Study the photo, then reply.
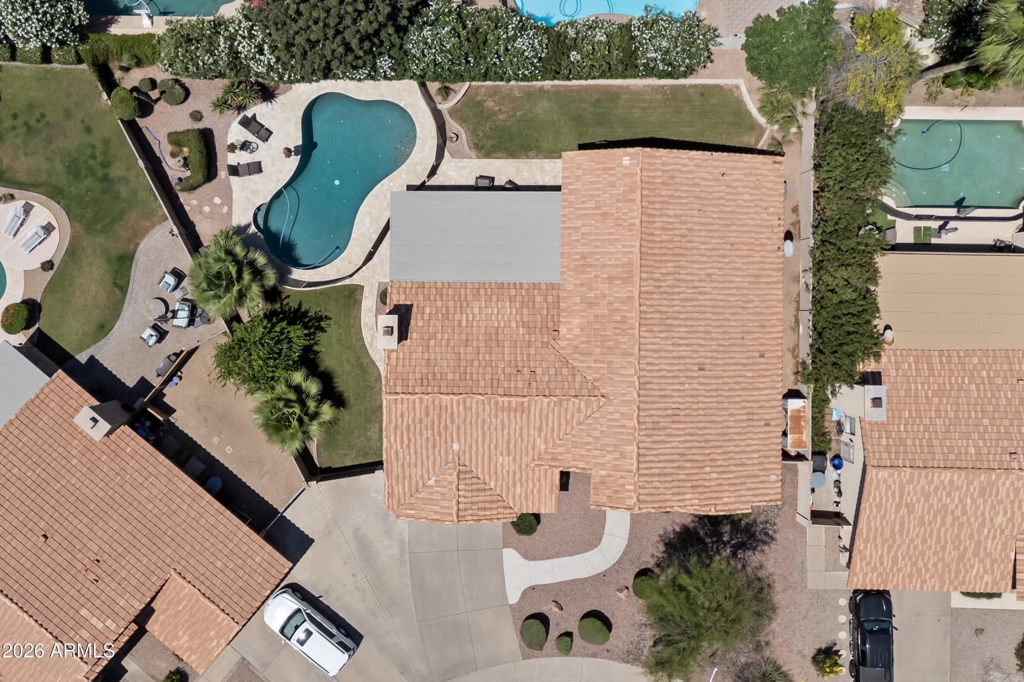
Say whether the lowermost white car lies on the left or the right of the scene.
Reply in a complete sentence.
The lowermost white car is on the left side of the image.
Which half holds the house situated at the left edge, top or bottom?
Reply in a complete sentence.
Seen from above, the house situated at the left edge lies in the bottom half of the view.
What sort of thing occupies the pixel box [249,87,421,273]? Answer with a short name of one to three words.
swimming pool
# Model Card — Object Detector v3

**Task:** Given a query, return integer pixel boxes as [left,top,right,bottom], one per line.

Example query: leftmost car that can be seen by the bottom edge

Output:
[264,588,361,682]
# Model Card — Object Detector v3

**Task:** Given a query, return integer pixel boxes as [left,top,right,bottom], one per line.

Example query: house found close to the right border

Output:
[836,251,1024,609]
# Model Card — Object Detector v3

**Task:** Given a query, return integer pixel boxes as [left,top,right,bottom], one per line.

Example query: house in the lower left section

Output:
[0,333,292,682]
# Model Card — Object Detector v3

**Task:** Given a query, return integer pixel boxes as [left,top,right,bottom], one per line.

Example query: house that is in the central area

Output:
[378,147,786,523]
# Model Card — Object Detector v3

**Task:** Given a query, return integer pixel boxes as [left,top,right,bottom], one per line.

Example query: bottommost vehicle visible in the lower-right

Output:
[845,589,902,682]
